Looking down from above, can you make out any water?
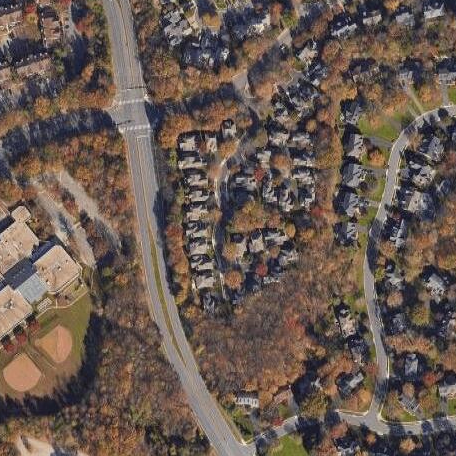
No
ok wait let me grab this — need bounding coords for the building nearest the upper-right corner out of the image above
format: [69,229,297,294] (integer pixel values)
[424,1,447,18]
